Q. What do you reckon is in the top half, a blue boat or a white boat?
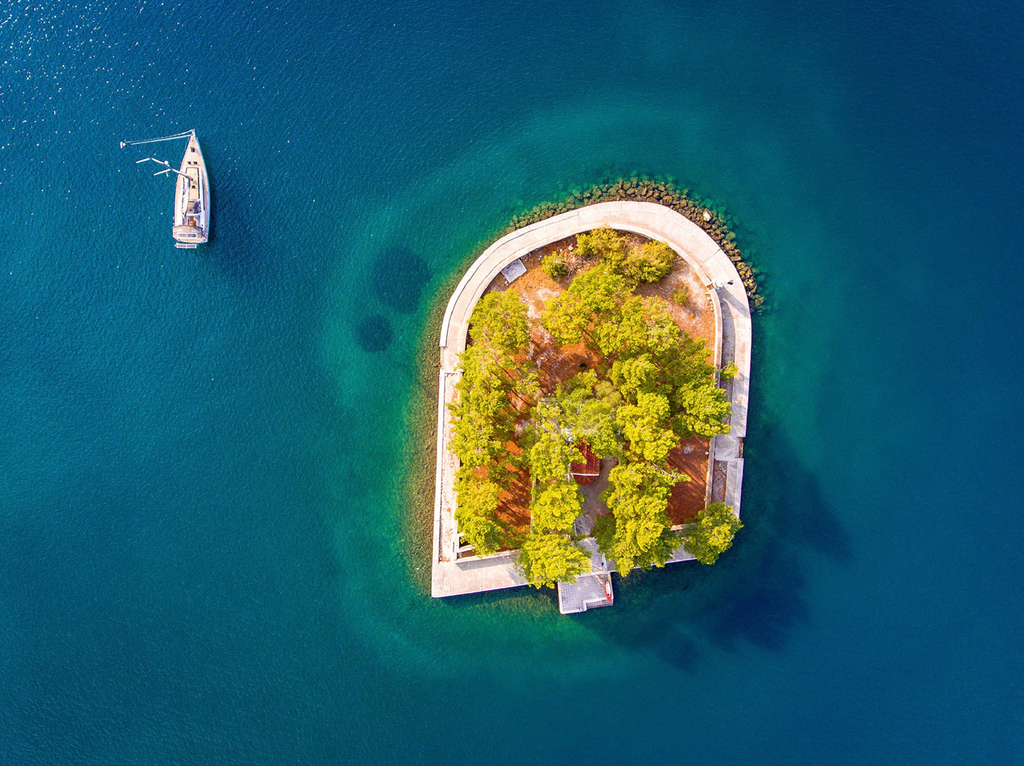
white boat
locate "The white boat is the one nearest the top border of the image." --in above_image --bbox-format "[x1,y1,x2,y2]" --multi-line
[118,129,210,248]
